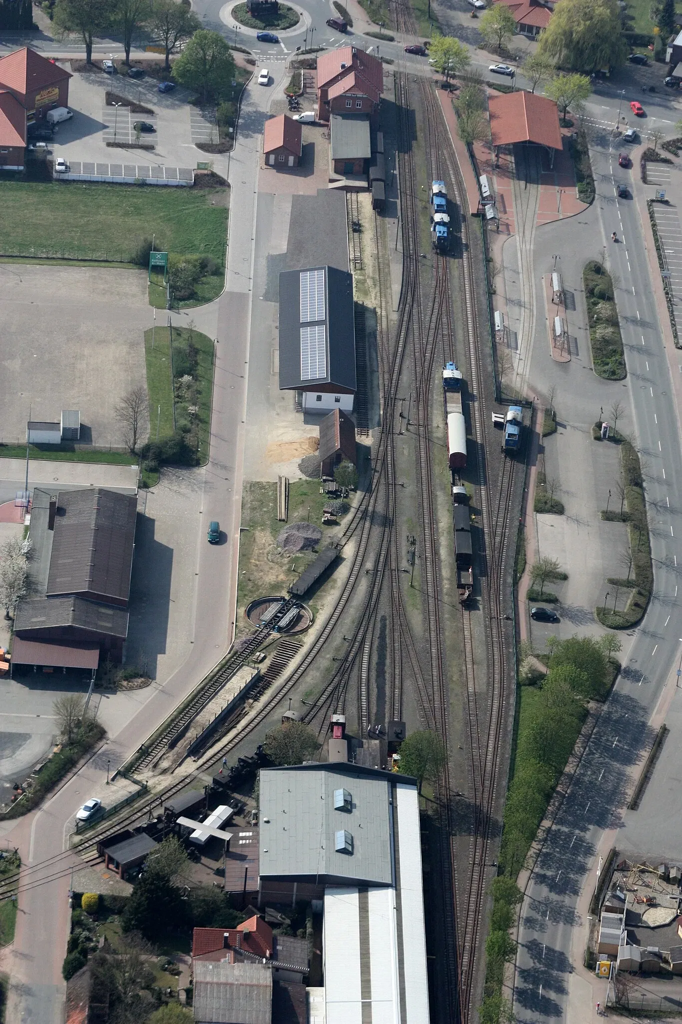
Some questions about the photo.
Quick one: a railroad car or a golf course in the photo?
railroad car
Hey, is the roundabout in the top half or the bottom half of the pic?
top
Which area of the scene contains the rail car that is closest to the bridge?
center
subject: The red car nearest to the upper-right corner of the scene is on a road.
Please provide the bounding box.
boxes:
[631,104,644,116]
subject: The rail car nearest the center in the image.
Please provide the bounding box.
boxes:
[283,540,340,600]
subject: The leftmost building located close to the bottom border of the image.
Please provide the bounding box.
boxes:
[66,971,109,1024]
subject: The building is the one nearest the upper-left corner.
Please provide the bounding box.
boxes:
[0,45,73,112]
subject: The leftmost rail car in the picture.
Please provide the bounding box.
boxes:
[95,805,152,846]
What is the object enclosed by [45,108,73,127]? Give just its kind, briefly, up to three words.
vehicle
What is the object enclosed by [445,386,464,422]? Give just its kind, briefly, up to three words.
rail car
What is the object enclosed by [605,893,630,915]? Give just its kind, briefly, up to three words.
shed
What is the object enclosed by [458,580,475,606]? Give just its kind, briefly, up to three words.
rail car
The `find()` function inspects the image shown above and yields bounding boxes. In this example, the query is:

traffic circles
[187,0,345,53]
